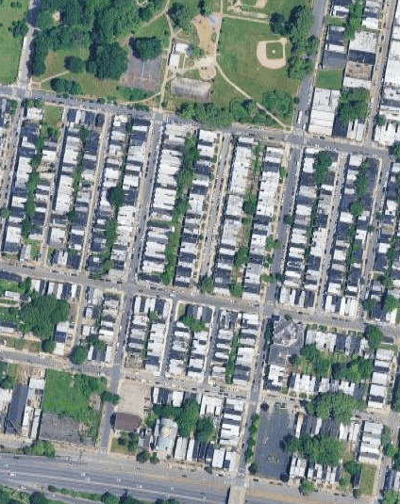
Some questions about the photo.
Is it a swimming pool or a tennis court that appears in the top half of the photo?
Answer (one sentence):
Visible in the top half of the photo is a tennis court.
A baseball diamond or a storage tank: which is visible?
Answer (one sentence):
This aerial view contains a baseball diamond.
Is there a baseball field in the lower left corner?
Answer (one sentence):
No, I see no baseball field in the lower left corner.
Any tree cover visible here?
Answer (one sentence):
Yes, there is tree cover in the image.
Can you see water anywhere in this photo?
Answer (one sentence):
No, the scene doesn't show any water.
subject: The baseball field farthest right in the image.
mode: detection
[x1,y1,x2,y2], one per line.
[257,33,289,68]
